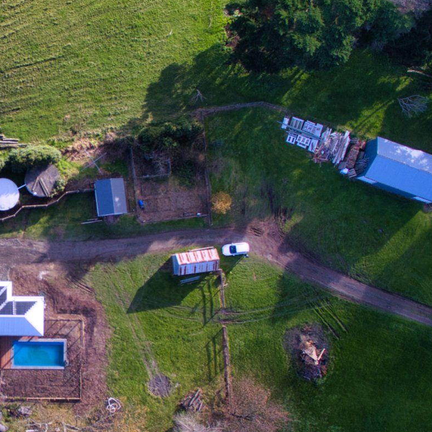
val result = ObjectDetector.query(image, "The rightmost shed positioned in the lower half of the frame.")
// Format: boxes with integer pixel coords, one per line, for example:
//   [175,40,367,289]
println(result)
[171,249,219,276]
